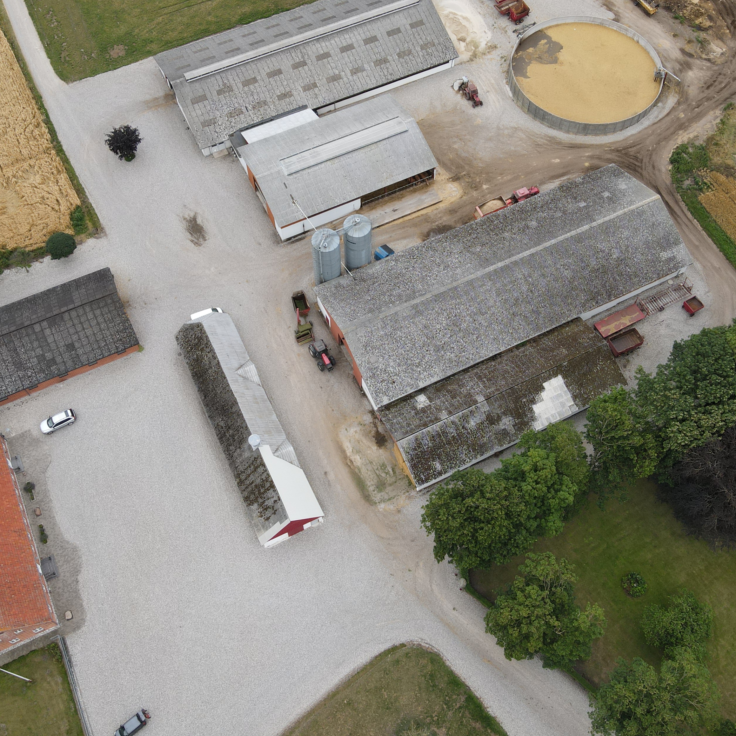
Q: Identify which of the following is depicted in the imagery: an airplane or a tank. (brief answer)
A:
tank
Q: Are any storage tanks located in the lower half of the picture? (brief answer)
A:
No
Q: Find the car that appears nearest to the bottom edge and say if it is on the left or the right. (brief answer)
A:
left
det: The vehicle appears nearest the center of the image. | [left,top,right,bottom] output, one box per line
[308,339,341,379]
